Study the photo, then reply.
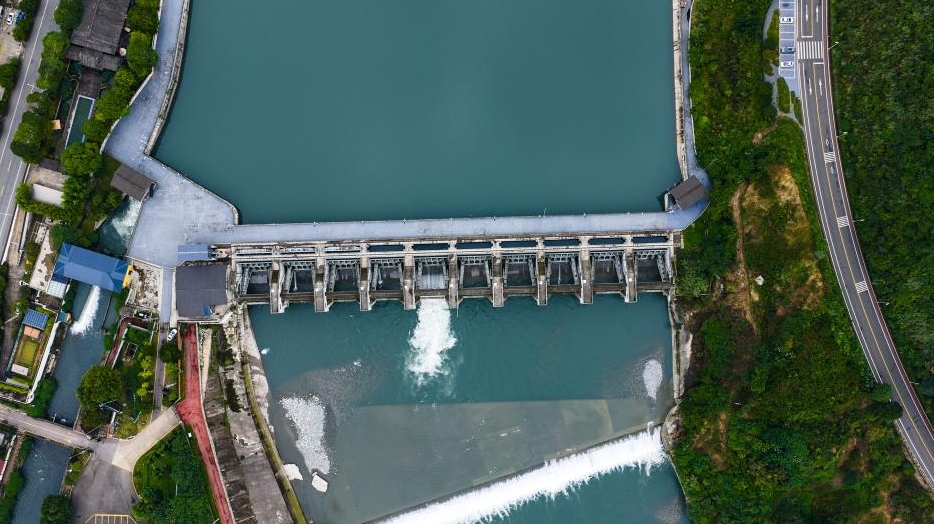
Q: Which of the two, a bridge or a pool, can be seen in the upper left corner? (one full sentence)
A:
What appears in the upper left corner is a pool.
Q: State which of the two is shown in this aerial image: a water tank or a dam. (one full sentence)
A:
There is a dam in the scene.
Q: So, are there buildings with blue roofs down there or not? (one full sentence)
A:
Yes, the image includes a building with a blue roof.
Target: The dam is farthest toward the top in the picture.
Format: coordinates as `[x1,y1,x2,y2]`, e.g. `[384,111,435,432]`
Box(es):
[224,212,683,374]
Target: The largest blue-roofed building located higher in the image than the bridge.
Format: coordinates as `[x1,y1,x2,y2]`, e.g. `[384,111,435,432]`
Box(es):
[54,243,136,292]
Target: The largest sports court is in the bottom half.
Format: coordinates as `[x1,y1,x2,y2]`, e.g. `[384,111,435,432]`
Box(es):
[16,337,36,367]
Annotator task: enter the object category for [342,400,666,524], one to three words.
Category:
dam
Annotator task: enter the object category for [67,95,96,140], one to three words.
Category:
swimming pool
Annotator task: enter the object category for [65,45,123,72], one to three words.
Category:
building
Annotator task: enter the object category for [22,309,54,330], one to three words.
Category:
house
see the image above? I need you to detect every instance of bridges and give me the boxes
[21,413,91,451]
